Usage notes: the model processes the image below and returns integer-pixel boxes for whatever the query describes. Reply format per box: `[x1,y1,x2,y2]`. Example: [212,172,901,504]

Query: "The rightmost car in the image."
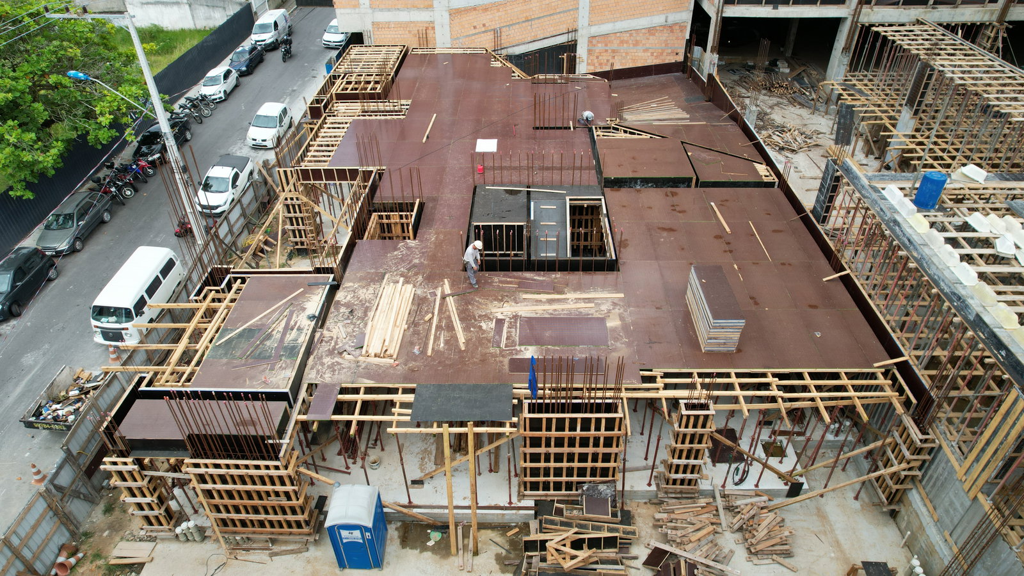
[322,16,347,43]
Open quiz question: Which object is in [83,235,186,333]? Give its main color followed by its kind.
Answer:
white van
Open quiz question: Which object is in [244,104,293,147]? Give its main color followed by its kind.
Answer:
white car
